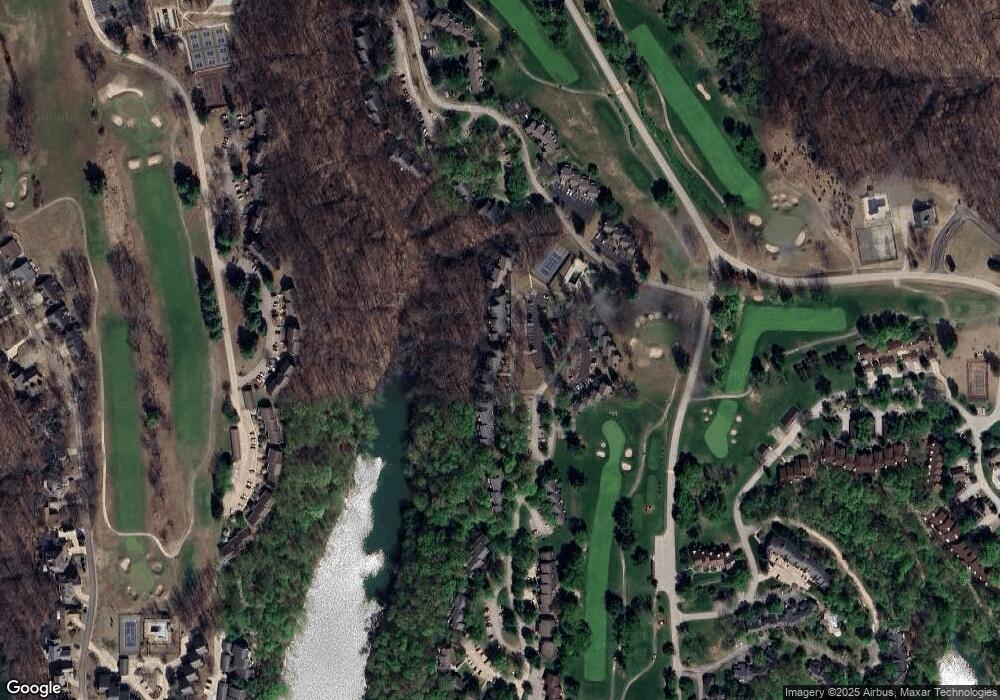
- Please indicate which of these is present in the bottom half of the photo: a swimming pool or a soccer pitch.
swimming pool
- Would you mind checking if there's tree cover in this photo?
Yes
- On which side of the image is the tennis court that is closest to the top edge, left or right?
left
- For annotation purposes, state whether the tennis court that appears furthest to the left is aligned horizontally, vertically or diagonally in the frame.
vertically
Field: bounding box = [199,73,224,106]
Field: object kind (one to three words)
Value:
tennis court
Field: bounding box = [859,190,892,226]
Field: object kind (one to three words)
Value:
swimming pool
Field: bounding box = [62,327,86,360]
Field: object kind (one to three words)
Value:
house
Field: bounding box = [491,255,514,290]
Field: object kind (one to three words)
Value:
building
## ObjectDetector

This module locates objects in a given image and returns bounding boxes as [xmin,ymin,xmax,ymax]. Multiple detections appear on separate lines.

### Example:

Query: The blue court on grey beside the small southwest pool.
[119,613,140,655]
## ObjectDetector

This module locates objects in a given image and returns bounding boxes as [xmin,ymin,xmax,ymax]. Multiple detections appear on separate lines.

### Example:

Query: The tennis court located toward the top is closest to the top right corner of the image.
[859,226,898,262]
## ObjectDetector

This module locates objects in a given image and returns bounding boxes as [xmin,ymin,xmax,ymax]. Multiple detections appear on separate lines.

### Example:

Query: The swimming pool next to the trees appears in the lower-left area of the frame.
[146,613,173,649]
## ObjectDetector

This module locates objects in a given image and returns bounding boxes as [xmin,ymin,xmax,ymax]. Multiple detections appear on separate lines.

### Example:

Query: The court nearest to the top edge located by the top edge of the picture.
[186,23,231,72]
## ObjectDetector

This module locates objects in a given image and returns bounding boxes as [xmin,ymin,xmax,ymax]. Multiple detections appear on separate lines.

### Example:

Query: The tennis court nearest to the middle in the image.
[535,245,570,283]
